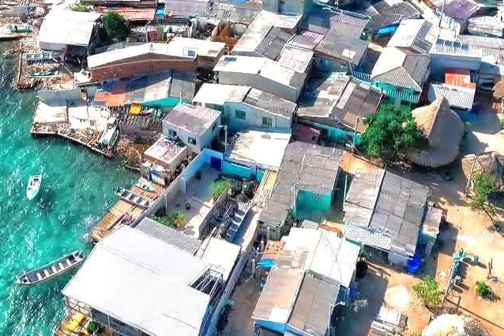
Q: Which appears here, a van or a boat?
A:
boat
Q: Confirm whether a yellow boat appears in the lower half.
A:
No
